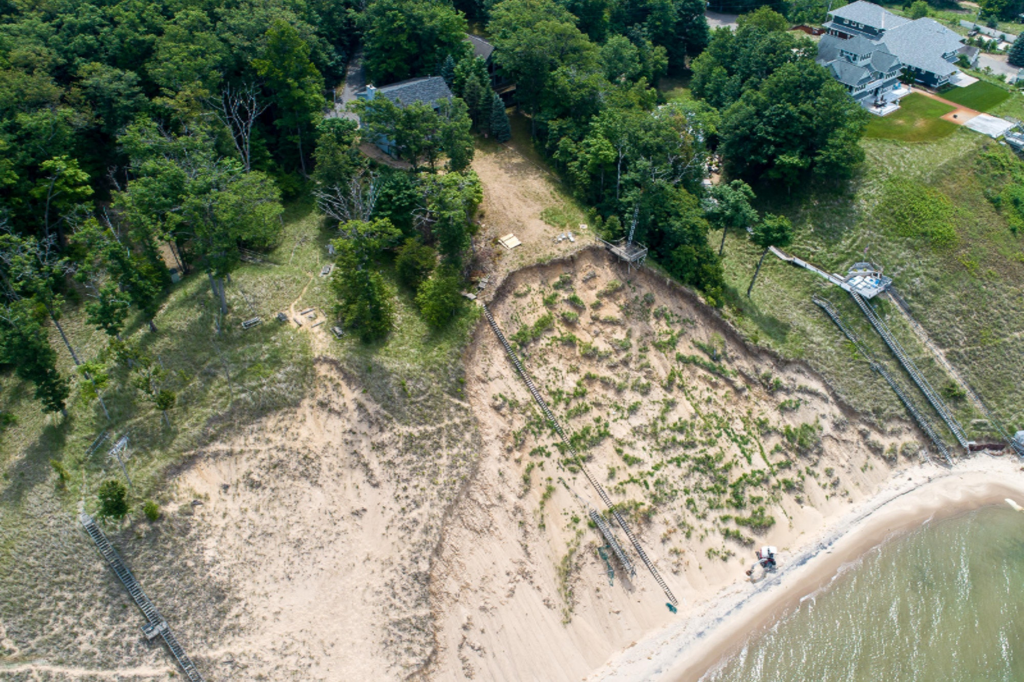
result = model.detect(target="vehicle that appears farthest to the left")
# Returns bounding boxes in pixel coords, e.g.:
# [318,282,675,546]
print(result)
[745,545,781,580]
